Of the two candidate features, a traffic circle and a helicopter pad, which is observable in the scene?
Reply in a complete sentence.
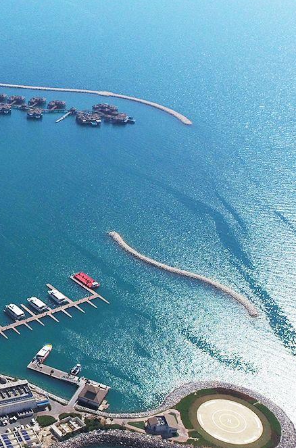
Looking from above, you can make out a helicopter pad.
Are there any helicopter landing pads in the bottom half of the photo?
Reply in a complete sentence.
Yes, you'll find a helicopter landing pad in the bottom half of the photo.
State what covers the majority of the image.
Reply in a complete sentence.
The largest share of the image is taken up by water.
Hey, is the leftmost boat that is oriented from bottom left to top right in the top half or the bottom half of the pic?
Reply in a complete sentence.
The bottom half of the photo is where the leftmost boat that is oriented from bottom left to top right is.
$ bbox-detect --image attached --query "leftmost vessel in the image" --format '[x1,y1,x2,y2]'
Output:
[6,305,25,320]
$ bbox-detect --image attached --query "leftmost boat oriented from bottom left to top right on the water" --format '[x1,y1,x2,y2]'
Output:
[32,343,53,363]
